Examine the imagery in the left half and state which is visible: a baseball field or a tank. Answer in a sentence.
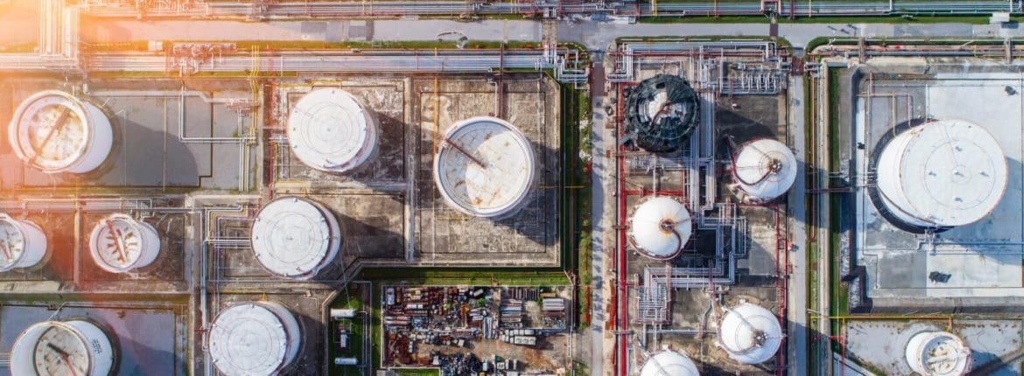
It is a tank that can be seen in the left half.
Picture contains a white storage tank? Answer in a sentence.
Yes, a white storage tank is visible in the scene.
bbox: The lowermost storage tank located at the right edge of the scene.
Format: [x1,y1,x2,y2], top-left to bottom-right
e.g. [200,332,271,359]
[906,329,973,376]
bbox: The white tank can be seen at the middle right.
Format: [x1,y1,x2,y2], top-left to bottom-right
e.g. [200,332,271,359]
[867,108,1009,238]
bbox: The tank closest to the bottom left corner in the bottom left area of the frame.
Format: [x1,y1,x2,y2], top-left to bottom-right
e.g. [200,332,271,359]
[10,301,116,376]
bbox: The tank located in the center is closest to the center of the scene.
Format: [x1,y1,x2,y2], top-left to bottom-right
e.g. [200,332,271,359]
[434,117,534,219]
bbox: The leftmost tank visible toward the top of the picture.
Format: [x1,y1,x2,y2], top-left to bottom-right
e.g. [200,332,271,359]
[8,91,114,176]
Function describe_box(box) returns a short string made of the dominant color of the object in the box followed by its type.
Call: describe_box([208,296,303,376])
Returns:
white storage tank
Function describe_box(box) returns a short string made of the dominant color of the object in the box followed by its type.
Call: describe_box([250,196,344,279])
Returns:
white storage tank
